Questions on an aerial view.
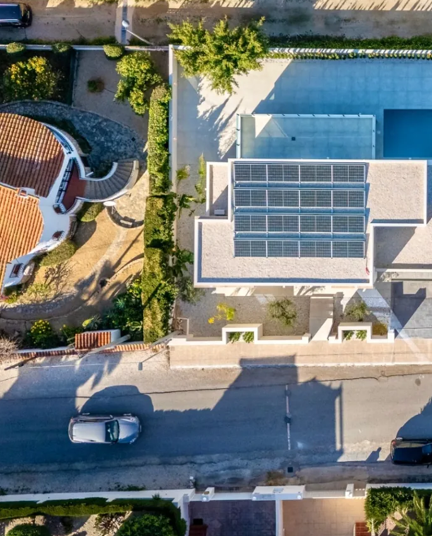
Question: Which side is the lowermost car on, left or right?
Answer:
right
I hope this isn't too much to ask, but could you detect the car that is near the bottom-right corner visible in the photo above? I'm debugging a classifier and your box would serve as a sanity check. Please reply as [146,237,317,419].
[392,437,432,468]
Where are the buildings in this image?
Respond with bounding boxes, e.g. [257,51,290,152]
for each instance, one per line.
[196,113,432,286]
[75,325,130,350]
[0,113,150,296]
